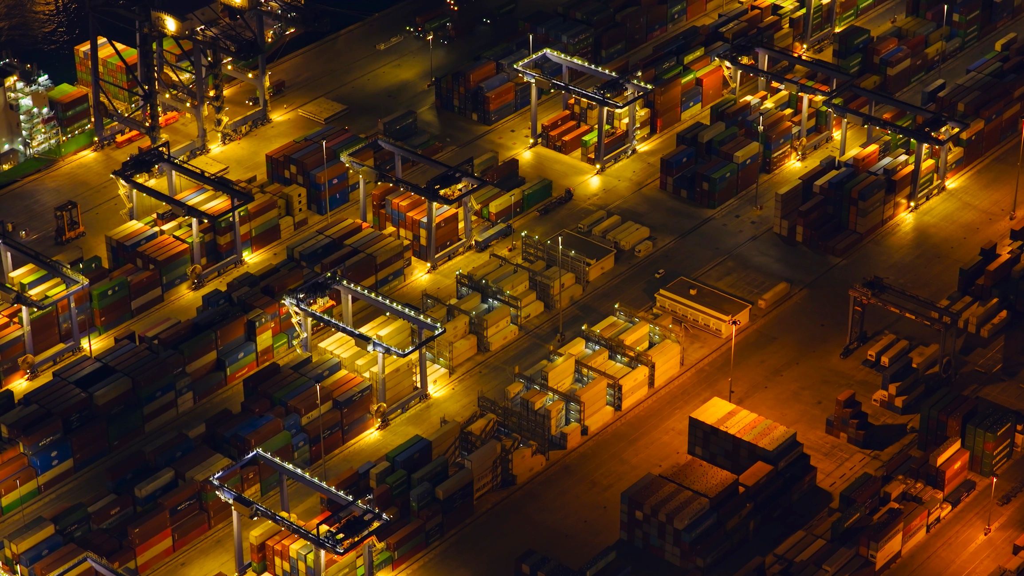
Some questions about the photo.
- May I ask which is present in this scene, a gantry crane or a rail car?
gantry crane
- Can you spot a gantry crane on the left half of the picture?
Yes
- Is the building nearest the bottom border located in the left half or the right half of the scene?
right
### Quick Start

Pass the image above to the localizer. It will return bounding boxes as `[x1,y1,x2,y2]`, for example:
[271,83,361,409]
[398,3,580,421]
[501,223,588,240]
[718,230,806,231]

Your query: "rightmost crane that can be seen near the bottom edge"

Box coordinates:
[196,445,393,576]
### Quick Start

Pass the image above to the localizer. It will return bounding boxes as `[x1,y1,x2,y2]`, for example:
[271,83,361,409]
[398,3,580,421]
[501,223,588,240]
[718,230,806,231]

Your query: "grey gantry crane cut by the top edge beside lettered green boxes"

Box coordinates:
[804,0,843,50]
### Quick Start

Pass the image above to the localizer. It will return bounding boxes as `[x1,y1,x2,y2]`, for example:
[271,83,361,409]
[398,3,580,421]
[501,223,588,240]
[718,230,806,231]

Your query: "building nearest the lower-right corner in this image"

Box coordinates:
[648,277,750,341]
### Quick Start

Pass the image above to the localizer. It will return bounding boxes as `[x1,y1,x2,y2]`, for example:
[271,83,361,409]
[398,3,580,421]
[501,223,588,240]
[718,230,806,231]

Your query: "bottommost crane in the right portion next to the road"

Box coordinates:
[836,254,967,396]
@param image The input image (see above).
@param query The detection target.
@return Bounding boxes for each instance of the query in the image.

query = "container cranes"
[273,268,450,426]
[836,254,967,396]
[331,136,491,272]
[813,80,976,210]
[100,147,256,287]
[0,235,94,376]
[51,0,232,177]
[707,34,862,159]
[196,445,393,576]
[147,0,294,146]
[506,47,658,172]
